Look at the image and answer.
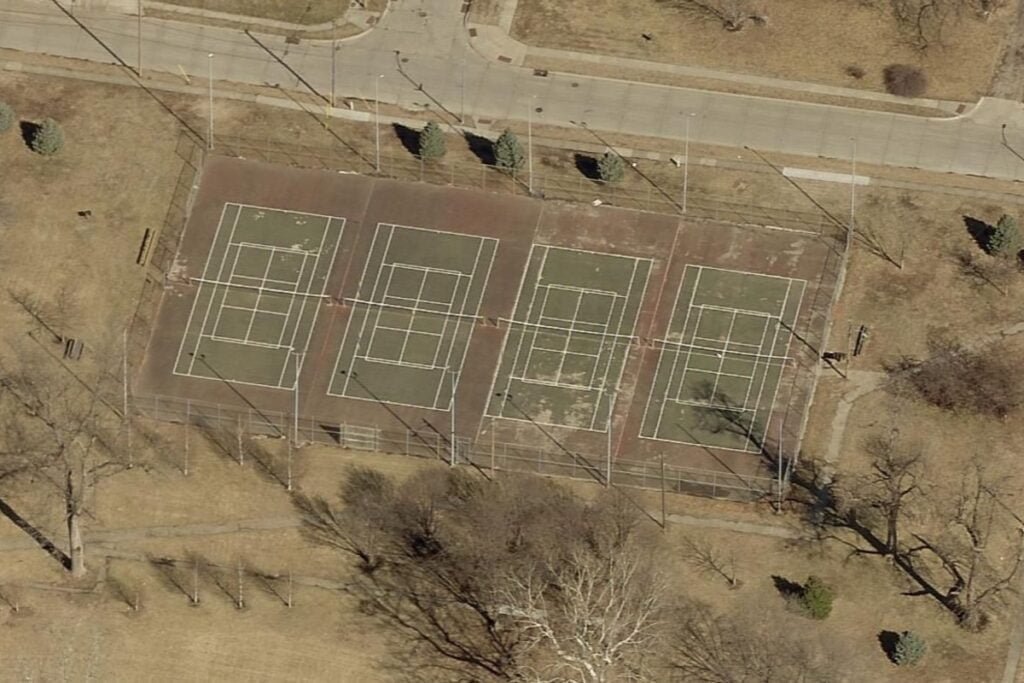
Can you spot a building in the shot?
No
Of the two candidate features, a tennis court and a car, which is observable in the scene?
tennis court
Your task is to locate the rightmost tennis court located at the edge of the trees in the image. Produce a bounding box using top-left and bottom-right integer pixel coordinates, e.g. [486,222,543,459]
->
[614,221,845,500]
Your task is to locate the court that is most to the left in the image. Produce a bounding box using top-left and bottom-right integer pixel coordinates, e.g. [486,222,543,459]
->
[132,157,376,434]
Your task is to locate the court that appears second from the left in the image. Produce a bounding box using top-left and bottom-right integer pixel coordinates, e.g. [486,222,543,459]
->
[302,180,546,457]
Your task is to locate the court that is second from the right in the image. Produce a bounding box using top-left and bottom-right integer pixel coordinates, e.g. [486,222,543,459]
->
[473,203,682,477]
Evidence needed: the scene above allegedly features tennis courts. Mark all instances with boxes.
[302,180,546,457]
[132,157,376,434]
[473,203,682,477]
[614,221,845,500]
